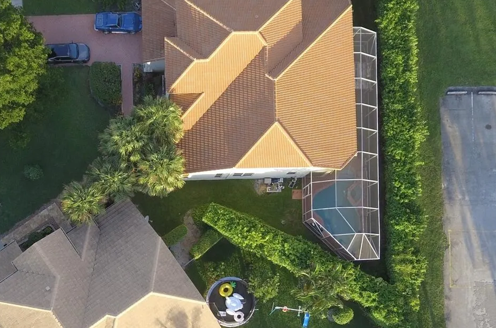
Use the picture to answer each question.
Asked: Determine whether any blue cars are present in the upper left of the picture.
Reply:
Yes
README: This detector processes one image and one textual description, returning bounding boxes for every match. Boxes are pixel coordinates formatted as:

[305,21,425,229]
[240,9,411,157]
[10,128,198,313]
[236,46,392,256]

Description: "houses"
[0,199,224,328]
[142,0,356,178]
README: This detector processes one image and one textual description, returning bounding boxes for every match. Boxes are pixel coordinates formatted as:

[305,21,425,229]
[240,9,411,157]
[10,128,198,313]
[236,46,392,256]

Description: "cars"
[38,40,92,66]
[92,9,142,35]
